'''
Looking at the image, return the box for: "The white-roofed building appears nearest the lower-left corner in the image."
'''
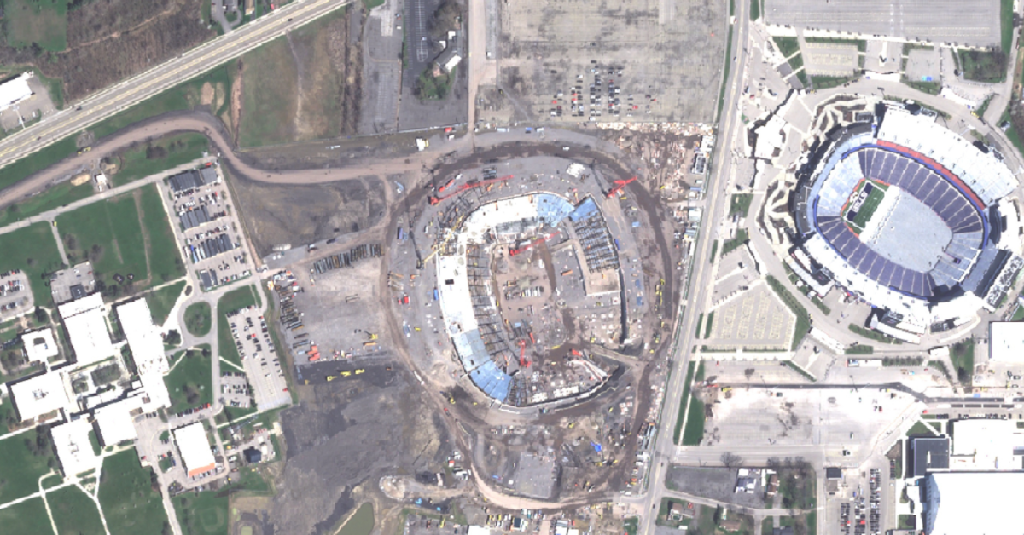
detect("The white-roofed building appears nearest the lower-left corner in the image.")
[48,419,96,478]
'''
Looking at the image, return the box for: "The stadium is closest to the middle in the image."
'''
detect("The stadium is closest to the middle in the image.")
[434,176,632,412]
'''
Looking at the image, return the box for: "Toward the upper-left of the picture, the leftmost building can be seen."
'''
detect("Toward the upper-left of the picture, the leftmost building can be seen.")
[0,71,33,109]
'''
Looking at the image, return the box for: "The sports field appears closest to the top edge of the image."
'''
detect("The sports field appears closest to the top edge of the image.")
[841,178,952,274]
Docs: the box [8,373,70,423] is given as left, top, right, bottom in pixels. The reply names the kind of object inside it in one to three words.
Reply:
building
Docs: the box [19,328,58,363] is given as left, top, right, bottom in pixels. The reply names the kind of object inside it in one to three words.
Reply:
building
